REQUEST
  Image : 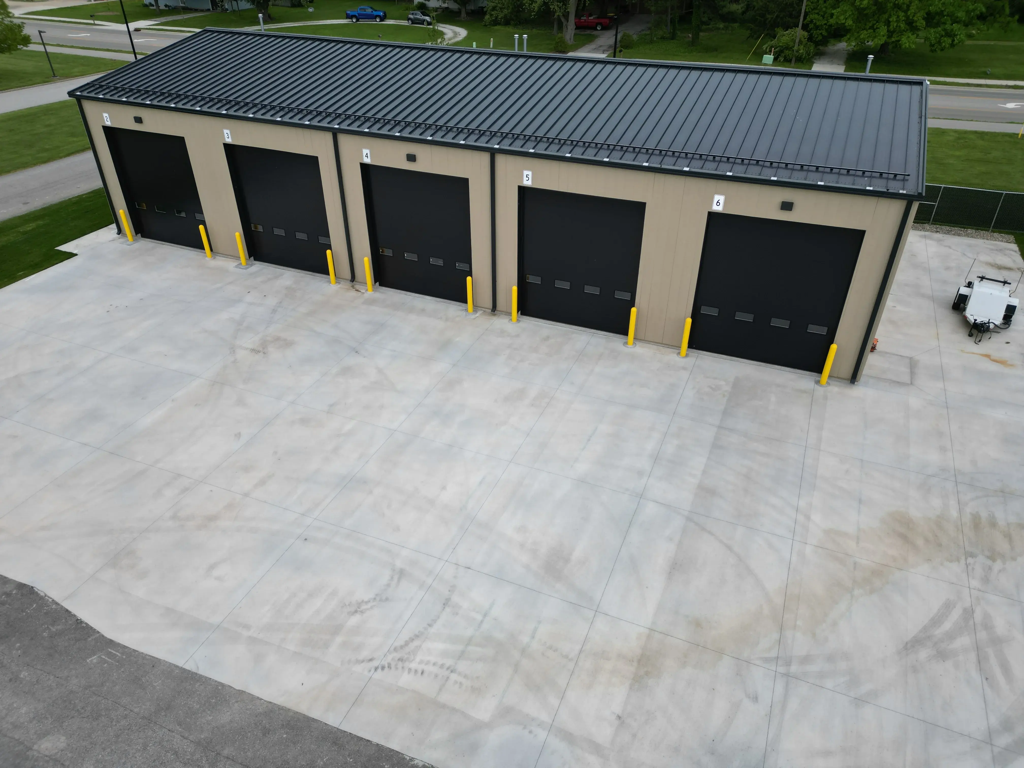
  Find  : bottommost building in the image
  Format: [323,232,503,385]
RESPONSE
[66,14,931,386]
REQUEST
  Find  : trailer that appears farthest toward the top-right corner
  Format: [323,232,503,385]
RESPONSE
[953,254,1024,347]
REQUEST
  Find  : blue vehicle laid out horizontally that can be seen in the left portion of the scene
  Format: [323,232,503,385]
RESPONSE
[344,4,390,22]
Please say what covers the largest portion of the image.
paved ground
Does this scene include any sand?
No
